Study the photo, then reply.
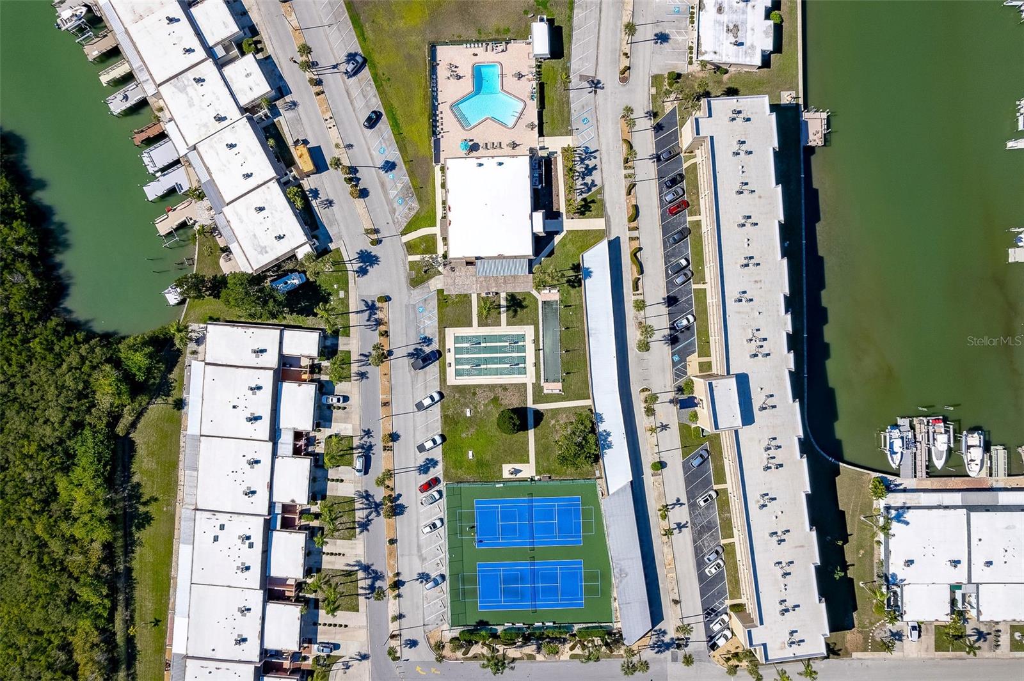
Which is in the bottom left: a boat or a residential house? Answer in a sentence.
The one visible in the bottom left is a residential house.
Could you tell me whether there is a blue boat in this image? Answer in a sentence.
Yes, this view includes a blue boat.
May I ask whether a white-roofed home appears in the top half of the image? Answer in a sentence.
Yes, in the top half of the image there is a white-roofed home.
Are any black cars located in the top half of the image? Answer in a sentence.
Yes, a black car can be seen in the top half of the image.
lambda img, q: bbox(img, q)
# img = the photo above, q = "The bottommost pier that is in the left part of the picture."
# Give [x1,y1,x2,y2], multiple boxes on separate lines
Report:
[152,197,197,237]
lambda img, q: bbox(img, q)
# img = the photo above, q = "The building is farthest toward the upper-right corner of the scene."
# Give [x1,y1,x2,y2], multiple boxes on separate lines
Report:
[694,0,773,73]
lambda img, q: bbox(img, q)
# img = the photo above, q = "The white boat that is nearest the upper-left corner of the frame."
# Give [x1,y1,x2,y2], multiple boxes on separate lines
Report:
[51,8,88,29]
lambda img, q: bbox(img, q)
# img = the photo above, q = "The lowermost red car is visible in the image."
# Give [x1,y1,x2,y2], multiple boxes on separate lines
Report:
[417,475,440,493]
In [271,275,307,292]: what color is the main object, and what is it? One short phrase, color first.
blue boat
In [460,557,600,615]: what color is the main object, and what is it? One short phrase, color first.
blue tennis court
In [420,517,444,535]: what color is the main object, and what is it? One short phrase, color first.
white car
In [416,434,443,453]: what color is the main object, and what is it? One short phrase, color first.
white vehicle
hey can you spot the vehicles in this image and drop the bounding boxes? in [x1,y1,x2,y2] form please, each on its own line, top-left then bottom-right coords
[667,257,690,276]
[322,395,345,405]
[423,573,446,591]
[668,226,690,245]
[415,391,442,411]
[417,475,440,493]
[707,627,733,650]
[292,138,314,172]
[688,449,710,469]
[703,544,724,564]
[694,488,716,508]
[313,642,336,652]
[351,454,365,477]
[707,612,730,632]
[416,434,443,453]
[420,489,443,507]
[412,350,440,369]
[662,172,685,189]
[662,186,685,205]
[666,199,689,217]
[673,313,696,331]
[420,517,444,535]
[906,621,919,643]
[658,146,681,163]
[703,557,725,577]
[360,110,382,130]
[673,269,693,286]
